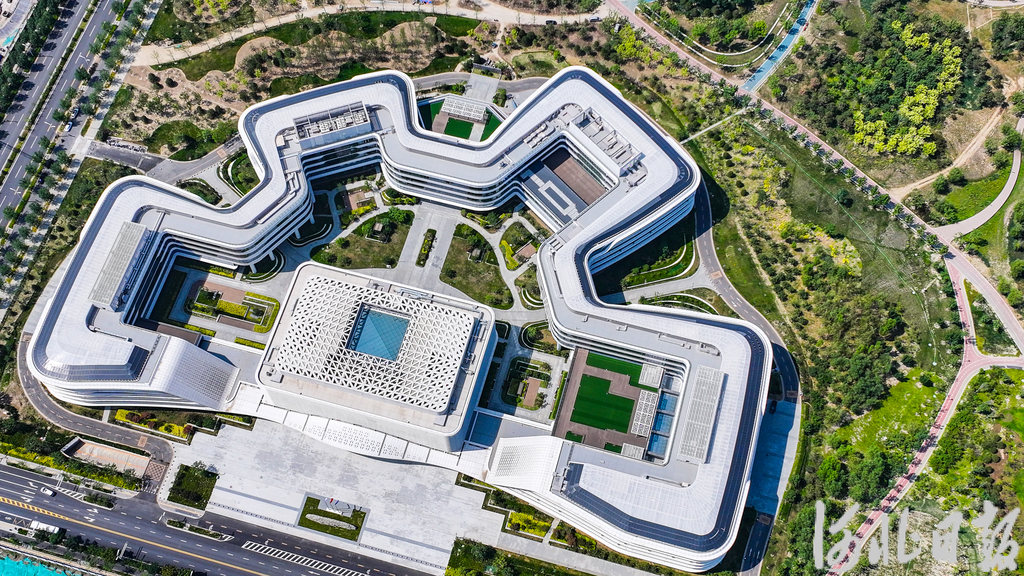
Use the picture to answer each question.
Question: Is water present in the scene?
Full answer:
No, no water is visible.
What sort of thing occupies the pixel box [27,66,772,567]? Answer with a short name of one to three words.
building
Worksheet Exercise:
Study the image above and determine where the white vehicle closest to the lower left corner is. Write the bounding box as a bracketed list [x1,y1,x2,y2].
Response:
[28,518,60,533]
